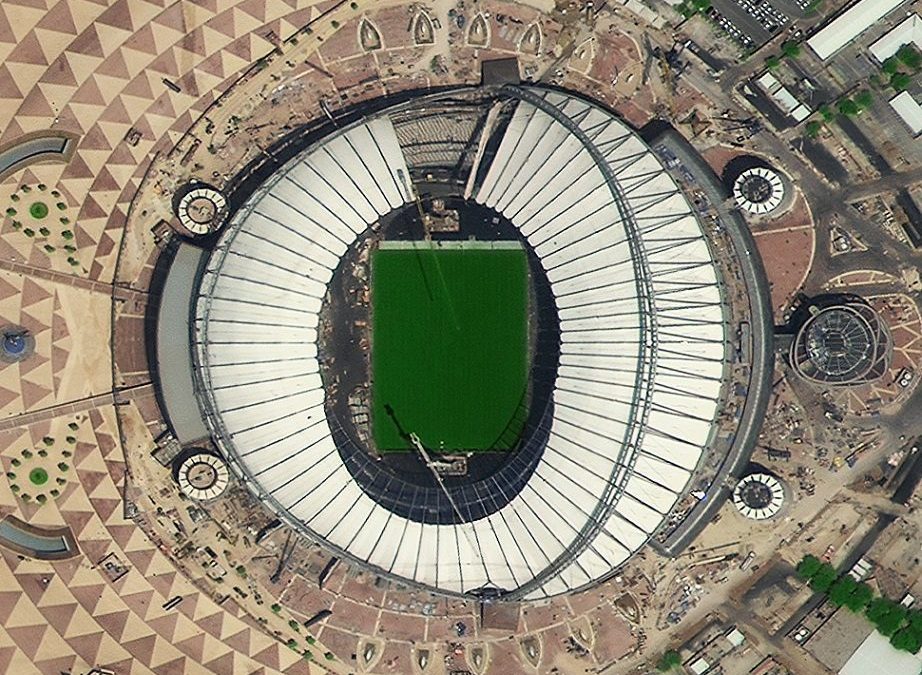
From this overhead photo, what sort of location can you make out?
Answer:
sports ground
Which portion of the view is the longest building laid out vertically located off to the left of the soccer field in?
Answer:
left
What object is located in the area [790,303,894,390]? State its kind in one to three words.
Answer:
building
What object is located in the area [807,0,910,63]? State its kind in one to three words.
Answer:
shed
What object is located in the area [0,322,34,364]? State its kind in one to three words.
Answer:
fountain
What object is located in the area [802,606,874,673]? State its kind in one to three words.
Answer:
building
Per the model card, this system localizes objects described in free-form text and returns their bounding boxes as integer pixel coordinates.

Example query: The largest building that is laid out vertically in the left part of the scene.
[157,240,212,446]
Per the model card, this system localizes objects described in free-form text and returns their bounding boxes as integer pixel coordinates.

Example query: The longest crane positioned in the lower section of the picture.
[411,436,475,550]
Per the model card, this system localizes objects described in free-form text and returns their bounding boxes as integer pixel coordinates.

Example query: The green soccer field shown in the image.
[371,238,531,456]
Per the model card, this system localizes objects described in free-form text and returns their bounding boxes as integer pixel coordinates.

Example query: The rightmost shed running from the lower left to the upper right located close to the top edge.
[869,12,922,65]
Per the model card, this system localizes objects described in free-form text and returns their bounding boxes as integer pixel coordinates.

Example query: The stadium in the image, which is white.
[195,85,729,602]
